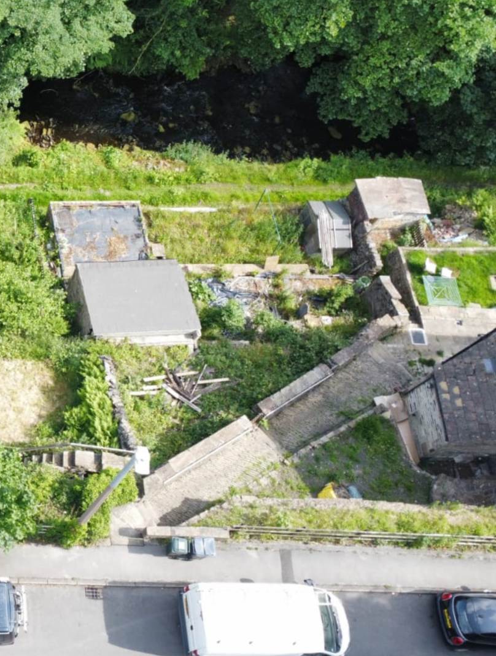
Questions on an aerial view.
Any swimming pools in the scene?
No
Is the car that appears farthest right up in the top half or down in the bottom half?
bottom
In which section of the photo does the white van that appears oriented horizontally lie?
bottom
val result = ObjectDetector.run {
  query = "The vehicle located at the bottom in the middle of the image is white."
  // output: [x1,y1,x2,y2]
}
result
[181,581,351,656]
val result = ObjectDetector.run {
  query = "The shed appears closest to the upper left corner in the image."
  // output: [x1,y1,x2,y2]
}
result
[46,199,151,291]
